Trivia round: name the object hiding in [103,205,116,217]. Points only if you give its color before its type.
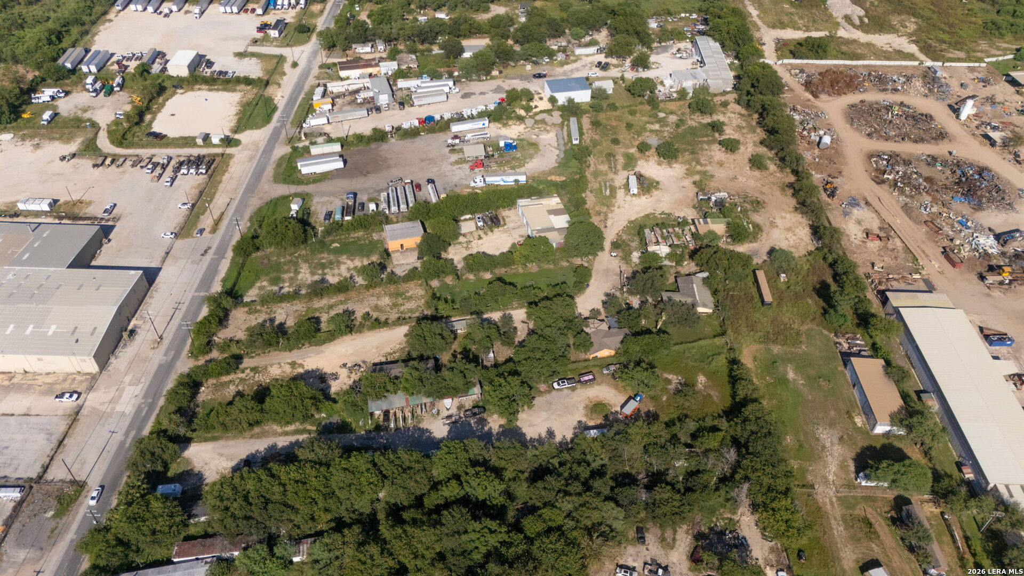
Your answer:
gray vehicle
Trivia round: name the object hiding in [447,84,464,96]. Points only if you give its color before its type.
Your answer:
white vehicle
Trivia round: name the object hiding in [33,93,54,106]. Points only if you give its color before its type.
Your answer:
white vehicle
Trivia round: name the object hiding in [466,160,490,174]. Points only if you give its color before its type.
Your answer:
red vehicle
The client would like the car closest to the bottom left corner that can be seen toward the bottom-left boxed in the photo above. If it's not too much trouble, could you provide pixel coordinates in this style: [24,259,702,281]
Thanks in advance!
[88,486,106,509]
